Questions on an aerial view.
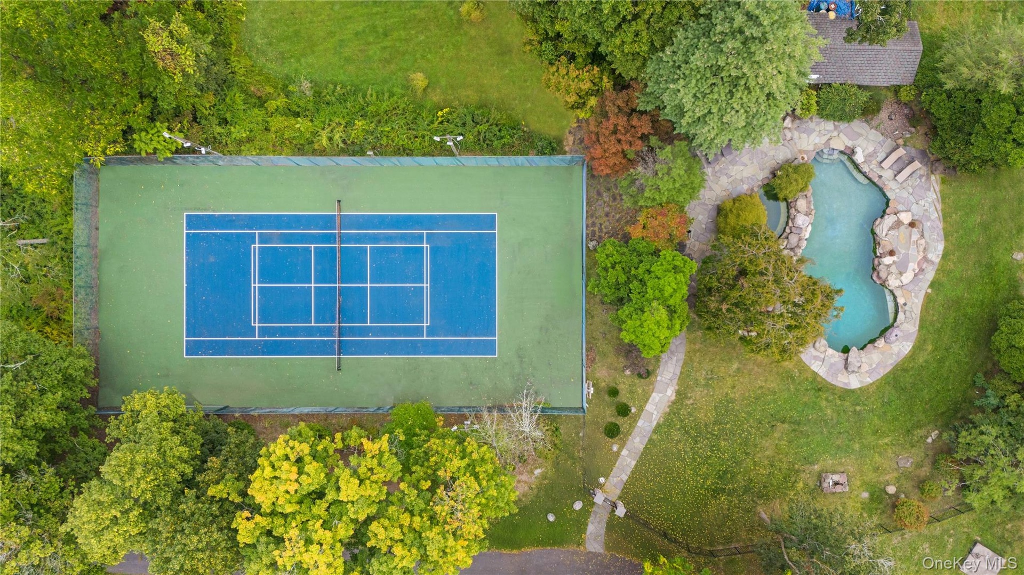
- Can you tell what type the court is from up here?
tennis court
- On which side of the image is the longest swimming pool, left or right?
right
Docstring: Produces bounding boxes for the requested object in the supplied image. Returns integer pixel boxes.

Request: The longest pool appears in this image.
[802,143,907,361]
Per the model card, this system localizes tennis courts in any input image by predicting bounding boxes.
[98,165,583,408]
